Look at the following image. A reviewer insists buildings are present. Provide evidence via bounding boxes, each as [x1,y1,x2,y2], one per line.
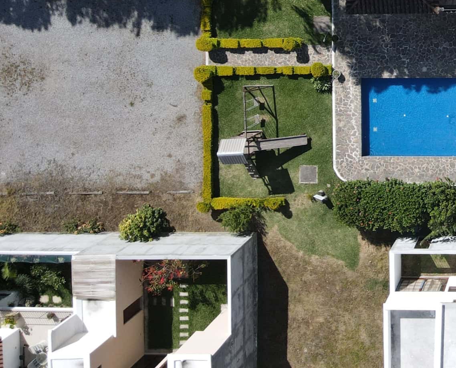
[383,238,456,368]
[343,0,442,16]
[0,232,255,368]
